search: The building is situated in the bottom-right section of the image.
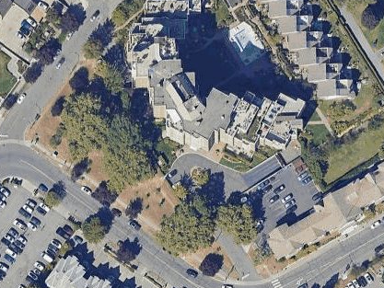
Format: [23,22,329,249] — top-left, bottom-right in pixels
[269,161,384,262]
